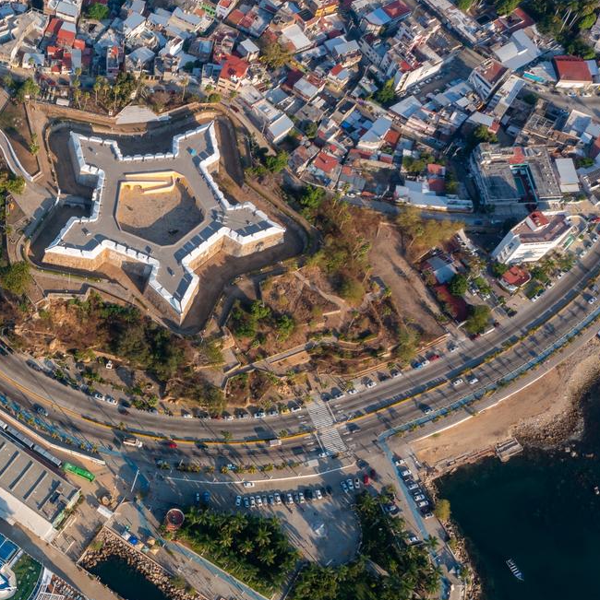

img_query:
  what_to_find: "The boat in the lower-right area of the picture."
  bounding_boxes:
[505,560,523,580]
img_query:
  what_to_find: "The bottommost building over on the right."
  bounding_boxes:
[432,288,475,325]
